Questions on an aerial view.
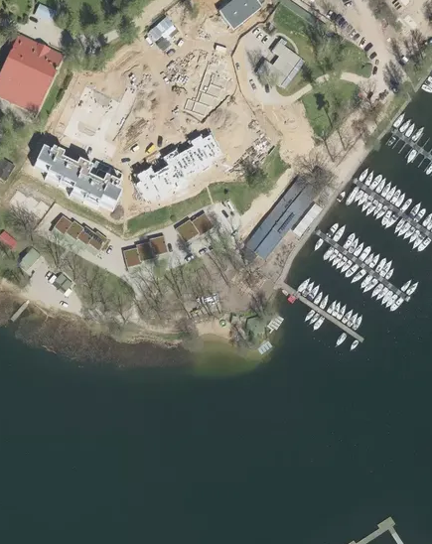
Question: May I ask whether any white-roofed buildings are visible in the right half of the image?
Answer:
Yes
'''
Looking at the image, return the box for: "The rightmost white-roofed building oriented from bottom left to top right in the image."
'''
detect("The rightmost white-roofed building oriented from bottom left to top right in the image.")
[295,205,321,238]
